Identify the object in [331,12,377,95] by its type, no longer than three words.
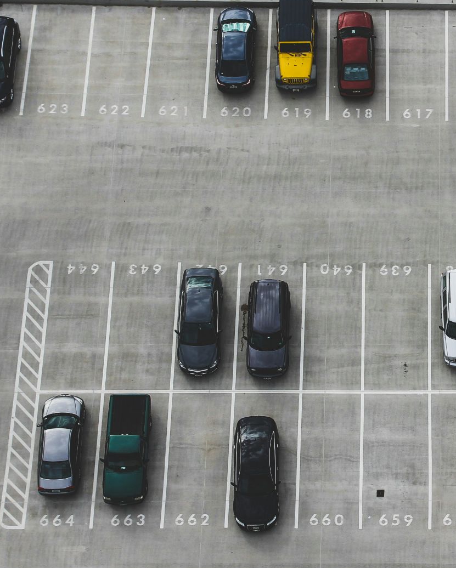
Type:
car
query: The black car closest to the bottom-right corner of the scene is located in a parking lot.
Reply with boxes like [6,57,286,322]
[229,415,283,533]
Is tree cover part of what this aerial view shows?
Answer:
No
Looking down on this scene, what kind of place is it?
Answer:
parking lot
